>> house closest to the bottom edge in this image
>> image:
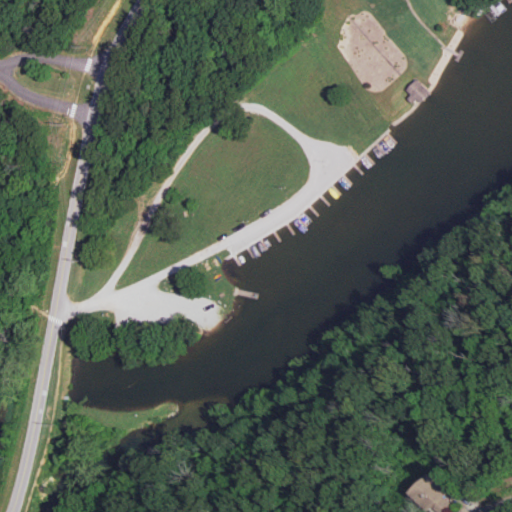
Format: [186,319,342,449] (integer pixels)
[408,477,448,512]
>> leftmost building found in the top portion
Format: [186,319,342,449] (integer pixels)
[405,77,431,104]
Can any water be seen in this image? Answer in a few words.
Yes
